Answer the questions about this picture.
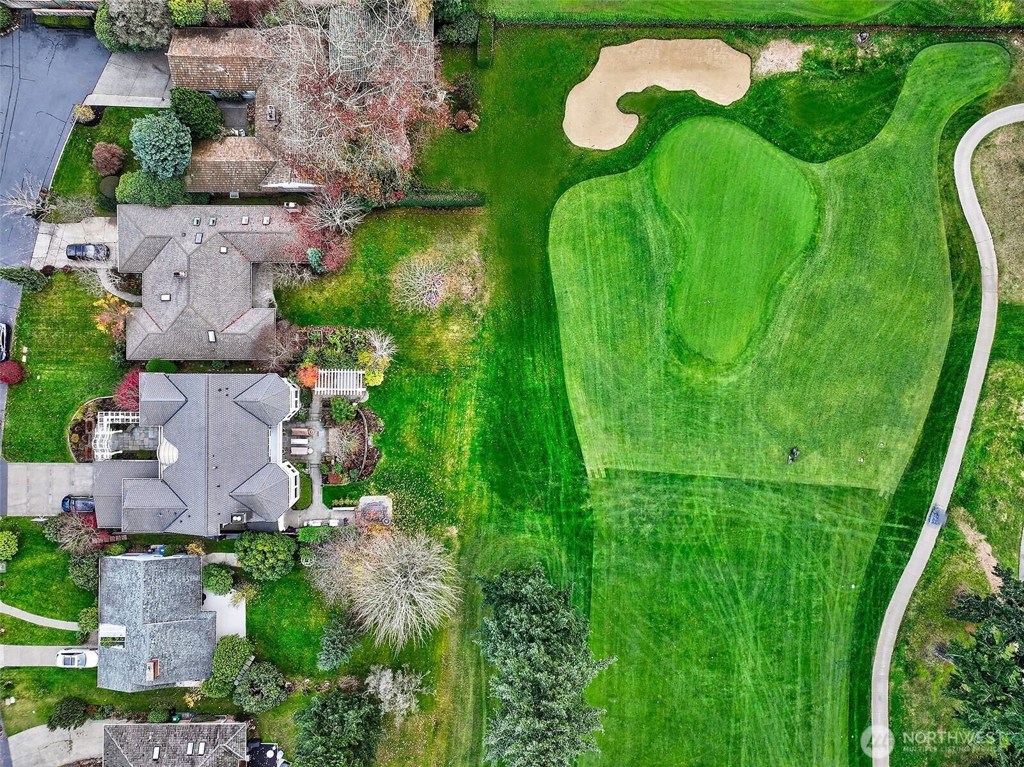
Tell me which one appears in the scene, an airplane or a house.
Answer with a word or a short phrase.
house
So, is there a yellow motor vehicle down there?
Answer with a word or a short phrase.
No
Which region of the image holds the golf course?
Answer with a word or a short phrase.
right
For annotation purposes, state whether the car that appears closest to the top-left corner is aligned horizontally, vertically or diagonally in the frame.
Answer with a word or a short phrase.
horizontally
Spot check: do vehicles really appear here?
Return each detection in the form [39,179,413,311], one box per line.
[929,506,954,531]
[59,496,92,516]
[55,647,97,669]
[62,241,109,261]
[0,322,10,364]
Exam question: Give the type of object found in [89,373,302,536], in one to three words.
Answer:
house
